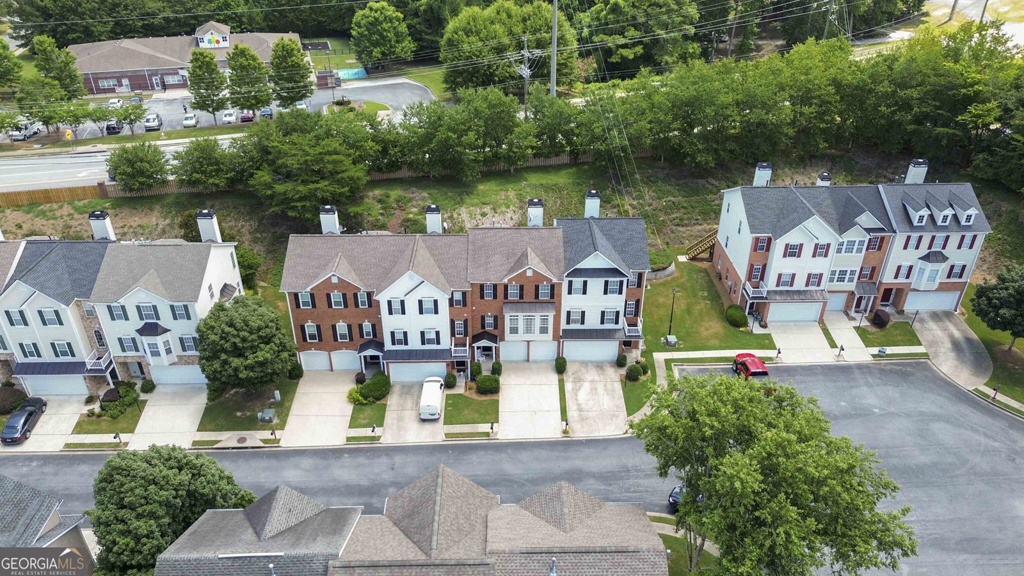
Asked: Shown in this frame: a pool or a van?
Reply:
van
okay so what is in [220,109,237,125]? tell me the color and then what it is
white car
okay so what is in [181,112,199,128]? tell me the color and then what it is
white car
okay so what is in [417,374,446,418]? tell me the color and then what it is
white van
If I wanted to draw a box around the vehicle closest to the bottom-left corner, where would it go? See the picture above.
[2,397,49,441]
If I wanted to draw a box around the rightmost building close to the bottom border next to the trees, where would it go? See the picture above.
[489,481,671,576]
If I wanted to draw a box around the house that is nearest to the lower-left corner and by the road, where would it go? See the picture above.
[0,473,100,576]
